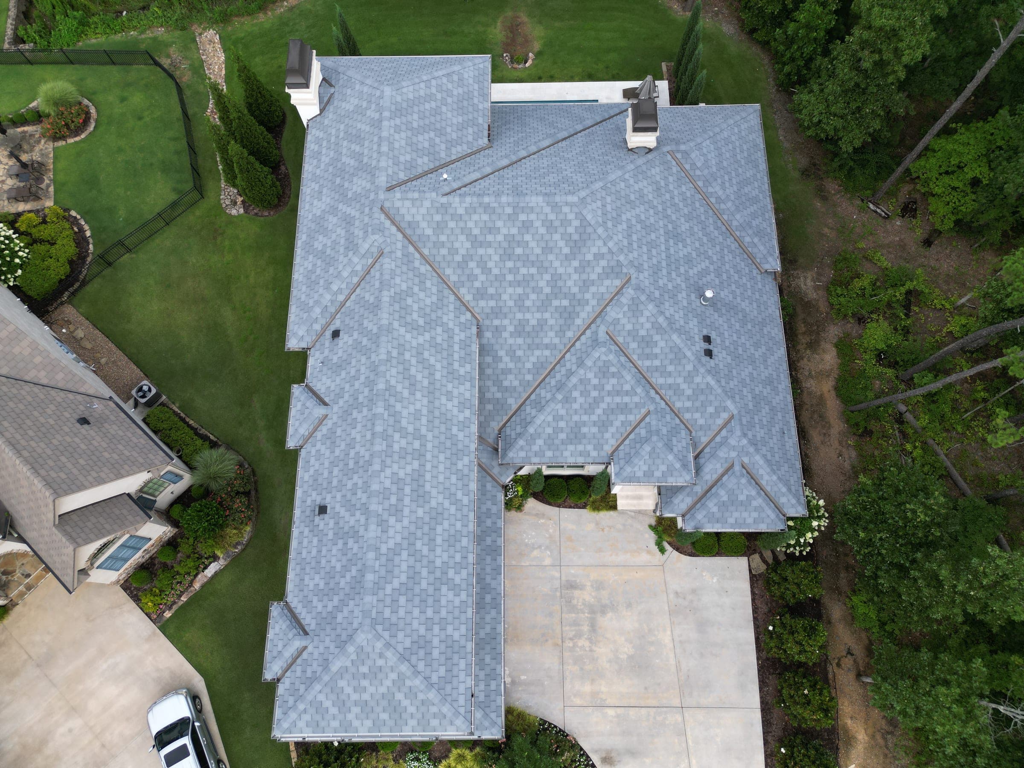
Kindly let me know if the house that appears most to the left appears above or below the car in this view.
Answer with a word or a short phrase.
above it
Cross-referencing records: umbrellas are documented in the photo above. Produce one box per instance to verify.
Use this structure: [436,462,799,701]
[643,74,659,98]
[1,147,46,186]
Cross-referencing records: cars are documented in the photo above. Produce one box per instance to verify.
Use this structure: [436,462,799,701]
[149,686,227,768]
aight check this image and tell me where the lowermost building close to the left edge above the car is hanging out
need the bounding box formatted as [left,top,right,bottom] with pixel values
[0,274,190,597]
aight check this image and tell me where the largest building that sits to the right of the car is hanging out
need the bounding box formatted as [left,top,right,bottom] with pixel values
[261,39,808,742]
